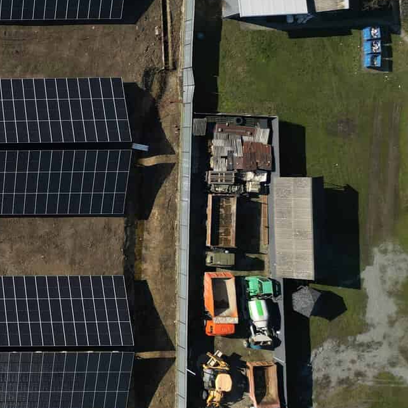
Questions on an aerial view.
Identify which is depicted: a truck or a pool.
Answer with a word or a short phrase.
truck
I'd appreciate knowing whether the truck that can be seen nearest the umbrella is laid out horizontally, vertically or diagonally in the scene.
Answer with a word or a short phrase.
vertically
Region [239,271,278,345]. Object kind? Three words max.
truck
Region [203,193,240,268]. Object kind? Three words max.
truck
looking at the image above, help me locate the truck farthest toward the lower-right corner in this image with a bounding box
[241,358,283,408]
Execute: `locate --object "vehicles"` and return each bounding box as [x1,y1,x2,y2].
[203,193,240,268]
[241,358,283,408]
[200,350,237,408]
[239,271,278,345]
[200,271,239,337]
